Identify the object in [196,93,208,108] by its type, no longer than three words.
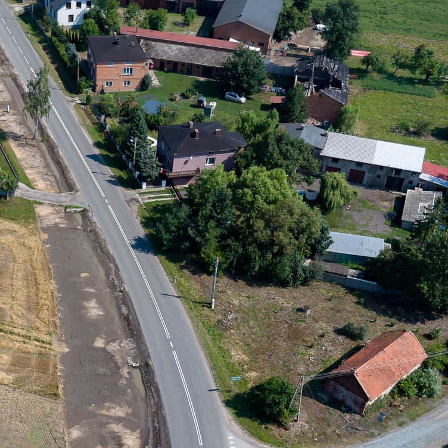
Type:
vehicle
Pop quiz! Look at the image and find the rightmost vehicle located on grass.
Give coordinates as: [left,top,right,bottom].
[223,90,247,104]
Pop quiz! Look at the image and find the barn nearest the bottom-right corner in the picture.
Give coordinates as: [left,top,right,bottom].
[328,330,431,416]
